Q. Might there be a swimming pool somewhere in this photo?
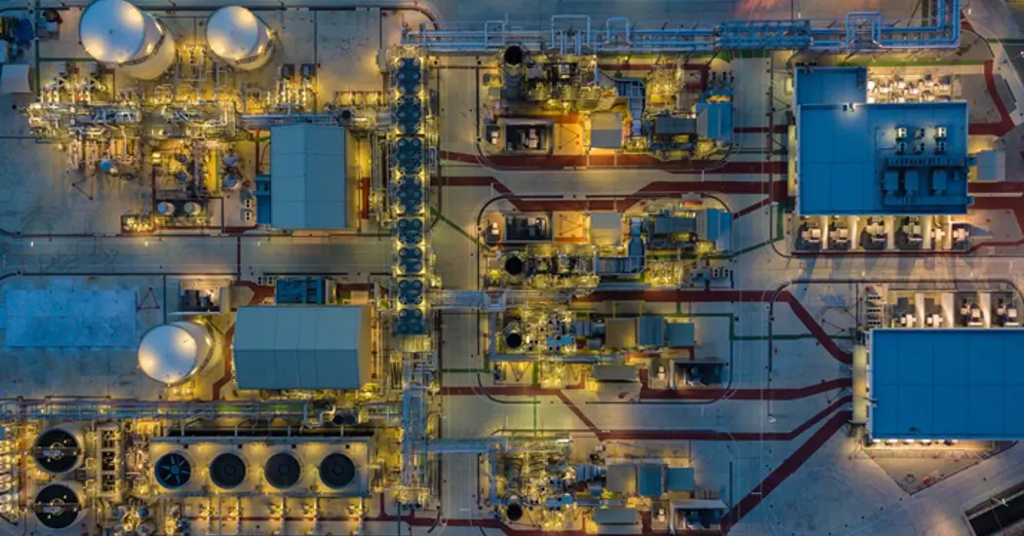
No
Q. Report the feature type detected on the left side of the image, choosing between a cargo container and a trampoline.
cargo container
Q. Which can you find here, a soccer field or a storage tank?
storage tank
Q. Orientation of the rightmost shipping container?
from side to side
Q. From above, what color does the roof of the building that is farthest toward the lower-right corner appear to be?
blue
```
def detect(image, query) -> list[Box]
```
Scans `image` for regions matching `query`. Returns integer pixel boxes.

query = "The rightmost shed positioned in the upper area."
[969,151,1005,182]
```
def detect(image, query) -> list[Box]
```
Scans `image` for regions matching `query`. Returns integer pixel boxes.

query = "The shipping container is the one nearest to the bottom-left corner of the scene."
[277,278,339,303]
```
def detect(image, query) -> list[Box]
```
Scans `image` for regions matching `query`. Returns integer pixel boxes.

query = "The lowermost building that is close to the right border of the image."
[862,328,1024,440]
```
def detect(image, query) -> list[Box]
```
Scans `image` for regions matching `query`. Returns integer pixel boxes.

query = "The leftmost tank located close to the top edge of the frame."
[79,0,180,83]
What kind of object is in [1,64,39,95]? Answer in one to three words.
shed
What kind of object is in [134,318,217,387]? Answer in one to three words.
storage tank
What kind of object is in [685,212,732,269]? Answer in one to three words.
house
